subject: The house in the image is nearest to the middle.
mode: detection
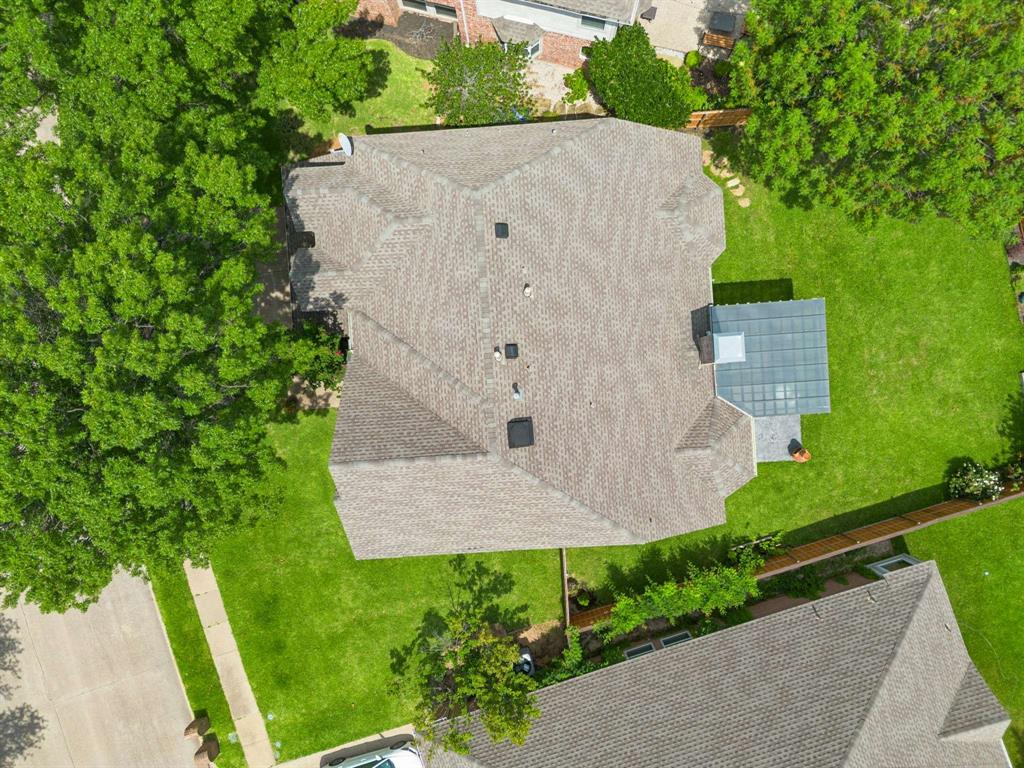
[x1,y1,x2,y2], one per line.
[282,116,758,558]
